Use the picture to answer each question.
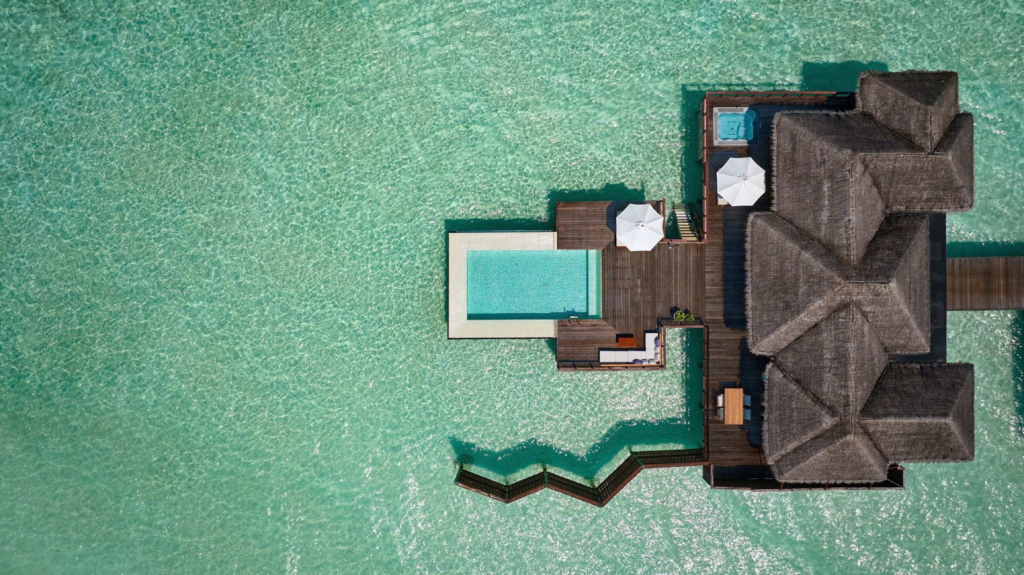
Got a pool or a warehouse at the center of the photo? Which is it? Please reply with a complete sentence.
The feature located at the center of the photo is a pool.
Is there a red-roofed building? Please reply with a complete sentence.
No, the scene contains no red-roofed building.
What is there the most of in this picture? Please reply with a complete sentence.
Most of the picture is covered by water.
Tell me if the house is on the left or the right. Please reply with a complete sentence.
The house sits on the right side.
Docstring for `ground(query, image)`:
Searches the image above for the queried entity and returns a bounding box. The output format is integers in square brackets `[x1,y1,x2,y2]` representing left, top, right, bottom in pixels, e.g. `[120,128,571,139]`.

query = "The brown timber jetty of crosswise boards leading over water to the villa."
[946,255,1024,310]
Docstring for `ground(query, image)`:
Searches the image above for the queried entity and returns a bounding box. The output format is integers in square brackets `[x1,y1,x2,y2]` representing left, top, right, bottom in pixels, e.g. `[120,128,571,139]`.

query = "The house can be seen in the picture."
[742,67,975,484]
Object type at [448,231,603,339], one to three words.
swimming pool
